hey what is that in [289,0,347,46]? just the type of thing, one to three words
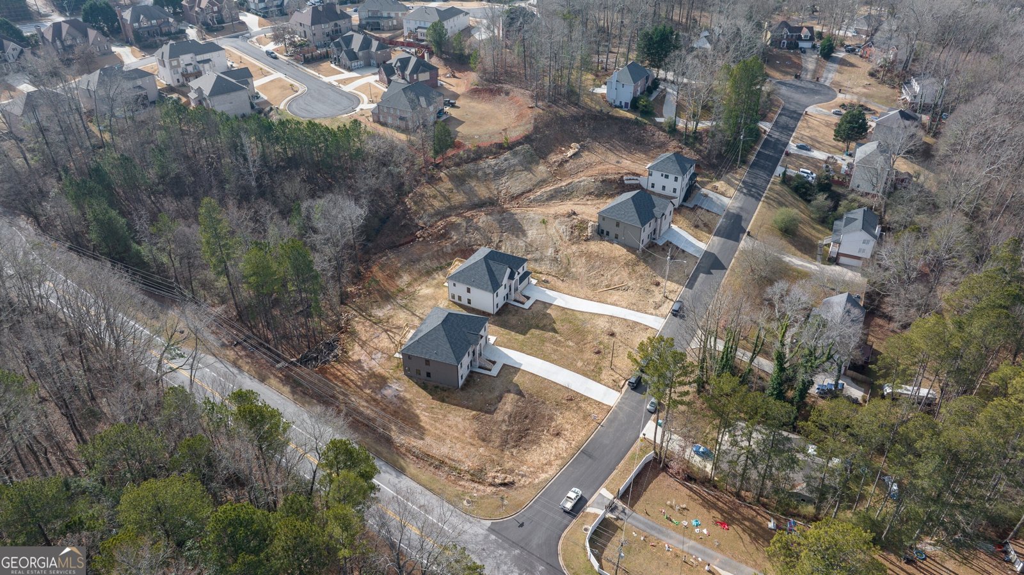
house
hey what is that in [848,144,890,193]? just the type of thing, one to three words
house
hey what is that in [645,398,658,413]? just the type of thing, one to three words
vehicle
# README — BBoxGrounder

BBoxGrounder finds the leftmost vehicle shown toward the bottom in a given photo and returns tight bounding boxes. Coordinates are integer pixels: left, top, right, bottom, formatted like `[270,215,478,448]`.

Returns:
[558,488,580,511]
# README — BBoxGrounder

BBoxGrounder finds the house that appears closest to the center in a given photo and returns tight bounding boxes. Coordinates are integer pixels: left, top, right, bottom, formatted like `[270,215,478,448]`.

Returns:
[445,246,538,315]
